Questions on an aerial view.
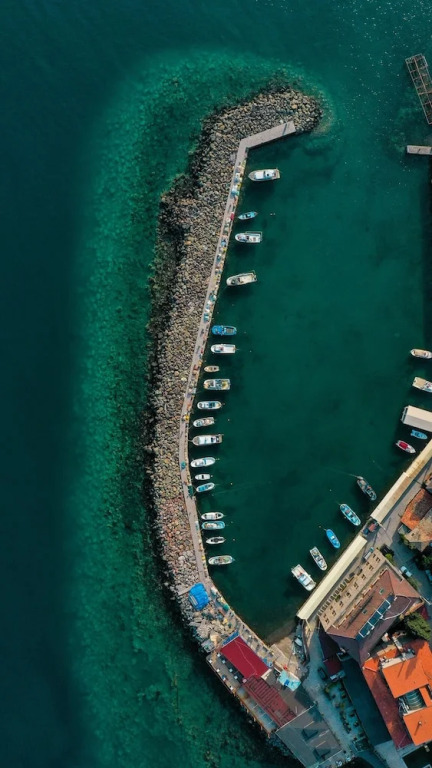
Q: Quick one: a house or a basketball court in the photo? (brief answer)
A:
house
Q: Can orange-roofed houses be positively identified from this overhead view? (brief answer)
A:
Yes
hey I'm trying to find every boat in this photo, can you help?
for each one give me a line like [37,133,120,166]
[211,344,237,353]
[394,440,416,453]
[190,416,216,428]
[308,546,328,572]
[196,511,224,520]
[207,555,234,566]
[410,379,432,392]
[195,473,212,480]
[195,482,216,493]
[340,503,364,530]
[210,326,238,334]
[410,429,428,440]
[197,400,224,410]
[223,270,259,285]
[204,366,220,372]
[410,349,432,359]
[189,457,216,467]
[238,211,257,220]
[324,528,342,548]
[204,537,228,544]
[243,168,289,181]
[201,520,225,530]
[201,379,230,390]
[236,231,264,242]
[357,478,377,501]
[190,434,226,446]
[290,562,314,590]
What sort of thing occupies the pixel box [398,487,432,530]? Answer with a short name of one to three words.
house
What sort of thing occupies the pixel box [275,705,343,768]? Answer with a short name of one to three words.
building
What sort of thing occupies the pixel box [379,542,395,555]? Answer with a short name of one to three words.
vehicle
